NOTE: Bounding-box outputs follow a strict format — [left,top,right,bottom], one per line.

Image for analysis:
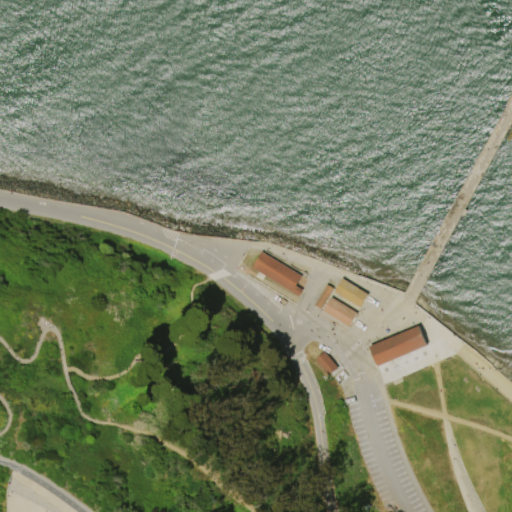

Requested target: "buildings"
[335,278,369,307]
[324,296,358,326]
[316,284,335,308]
[370,324,429,366]
[316,352,338,374]
[253,252,304,295]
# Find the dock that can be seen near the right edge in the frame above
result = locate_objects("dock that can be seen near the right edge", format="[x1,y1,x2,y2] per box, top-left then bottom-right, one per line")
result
[406,90,512,300]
